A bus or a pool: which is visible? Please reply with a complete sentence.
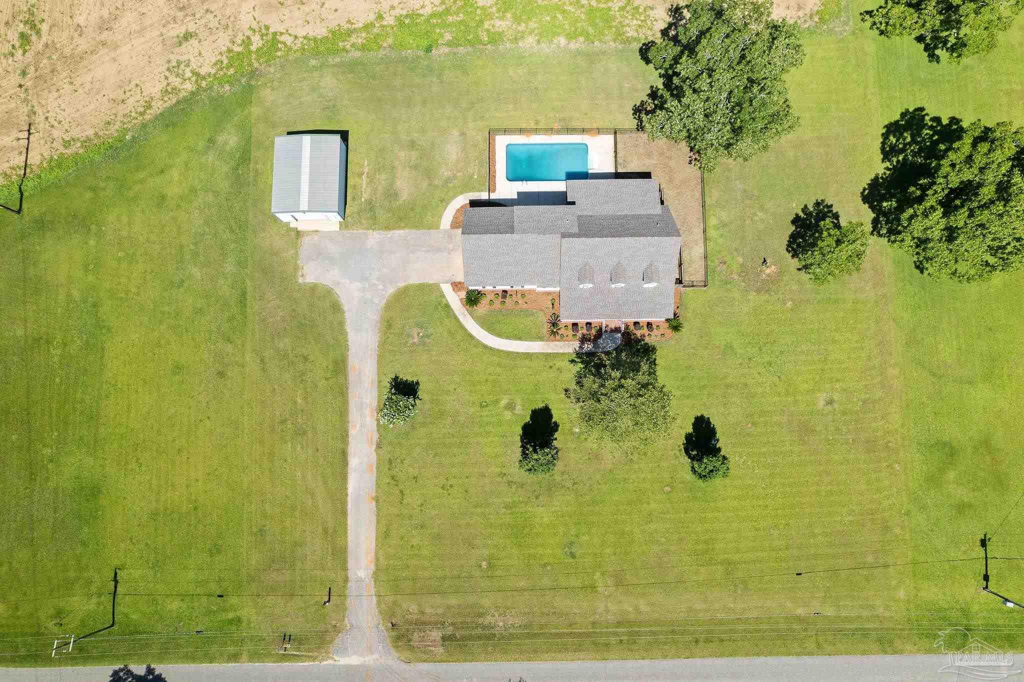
There is a pool in the scene.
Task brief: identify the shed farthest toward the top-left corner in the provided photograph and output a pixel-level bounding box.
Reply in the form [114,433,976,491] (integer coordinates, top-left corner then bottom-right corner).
[272,132,346,221]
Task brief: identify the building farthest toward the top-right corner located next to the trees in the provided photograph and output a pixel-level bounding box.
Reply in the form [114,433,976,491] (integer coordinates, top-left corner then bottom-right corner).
[461,178,680,330]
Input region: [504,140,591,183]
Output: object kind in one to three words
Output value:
swimming pool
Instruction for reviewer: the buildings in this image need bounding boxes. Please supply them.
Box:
[461,178,680,330]
[272,132,346,221]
